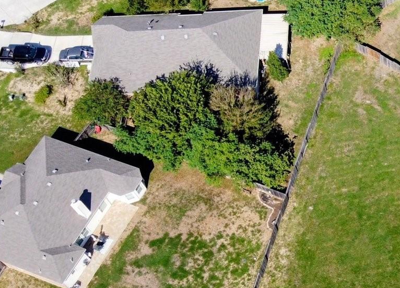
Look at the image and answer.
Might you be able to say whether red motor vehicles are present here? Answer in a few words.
No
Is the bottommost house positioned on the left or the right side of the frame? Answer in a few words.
left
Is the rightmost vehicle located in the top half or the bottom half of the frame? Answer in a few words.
top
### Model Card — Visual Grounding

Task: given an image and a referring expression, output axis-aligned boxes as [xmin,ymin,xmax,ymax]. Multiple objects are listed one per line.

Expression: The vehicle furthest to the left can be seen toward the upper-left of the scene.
[0,44,50,66]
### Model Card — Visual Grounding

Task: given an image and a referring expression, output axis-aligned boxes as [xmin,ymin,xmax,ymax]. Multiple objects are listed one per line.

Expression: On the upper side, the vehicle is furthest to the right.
[57,44,89,65]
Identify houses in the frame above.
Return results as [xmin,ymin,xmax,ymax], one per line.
[85,9,290,104]
[0,136,147,288]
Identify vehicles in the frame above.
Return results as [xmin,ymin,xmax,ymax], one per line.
[0,44,50,66]
[57,44,89,65]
